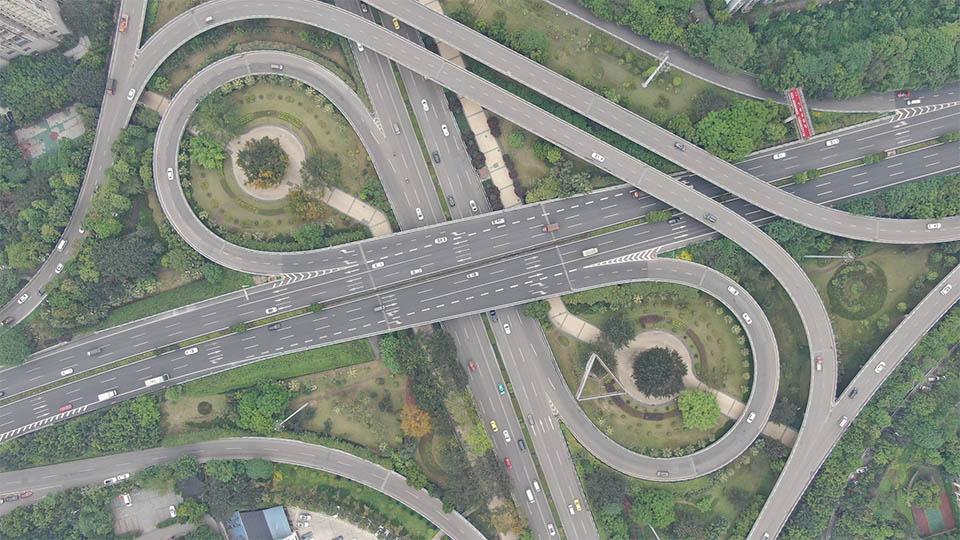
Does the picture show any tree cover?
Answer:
Yes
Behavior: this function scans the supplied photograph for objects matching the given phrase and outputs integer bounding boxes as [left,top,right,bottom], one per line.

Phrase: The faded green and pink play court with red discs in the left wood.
[14,110,85,157]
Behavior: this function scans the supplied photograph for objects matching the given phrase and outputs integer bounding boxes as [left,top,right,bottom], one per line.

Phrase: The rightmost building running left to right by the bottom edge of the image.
[225,502,310,540]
